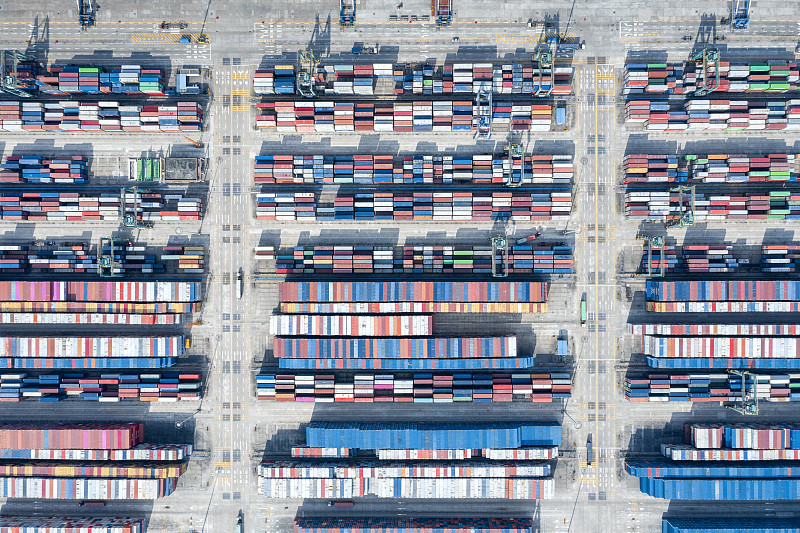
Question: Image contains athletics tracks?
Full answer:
No, no athletics track can be seen from above.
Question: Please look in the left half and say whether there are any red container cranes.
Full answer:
No, no red container crane appears in the left half.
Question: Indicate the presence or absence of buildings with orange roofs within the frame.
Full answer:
No, I can see no building with an orange roof in this picture.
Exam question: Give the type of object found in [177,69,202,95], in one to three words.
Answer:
building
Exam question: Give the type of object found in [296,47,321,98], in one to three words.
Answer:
container crane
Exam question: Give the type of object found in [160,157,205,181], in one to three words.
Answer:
shed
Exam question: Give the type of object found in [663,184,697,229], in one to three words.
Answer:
container crane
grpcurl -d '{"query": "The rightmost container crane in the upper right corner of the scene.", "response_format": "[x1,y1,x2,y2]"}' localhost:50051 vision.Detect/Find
[728,0,751,35]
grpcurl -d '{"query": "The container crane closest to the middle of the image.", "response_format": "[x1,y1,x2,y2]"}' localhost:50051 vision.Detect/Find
[485,234,509,279]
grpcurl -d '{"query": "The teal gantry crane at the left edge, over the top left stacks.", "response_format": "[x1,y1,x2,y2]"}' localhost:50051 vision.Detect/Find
[0,47,40,98]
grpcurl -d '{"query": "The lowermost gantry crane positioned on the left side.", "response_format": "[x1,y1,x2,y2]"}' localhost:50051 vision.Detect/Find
[97,234,132,279]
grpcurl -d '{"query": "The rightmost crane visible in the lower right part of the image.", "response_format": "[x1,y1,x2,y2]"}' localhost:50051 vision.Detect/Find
[722,368,759,417]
